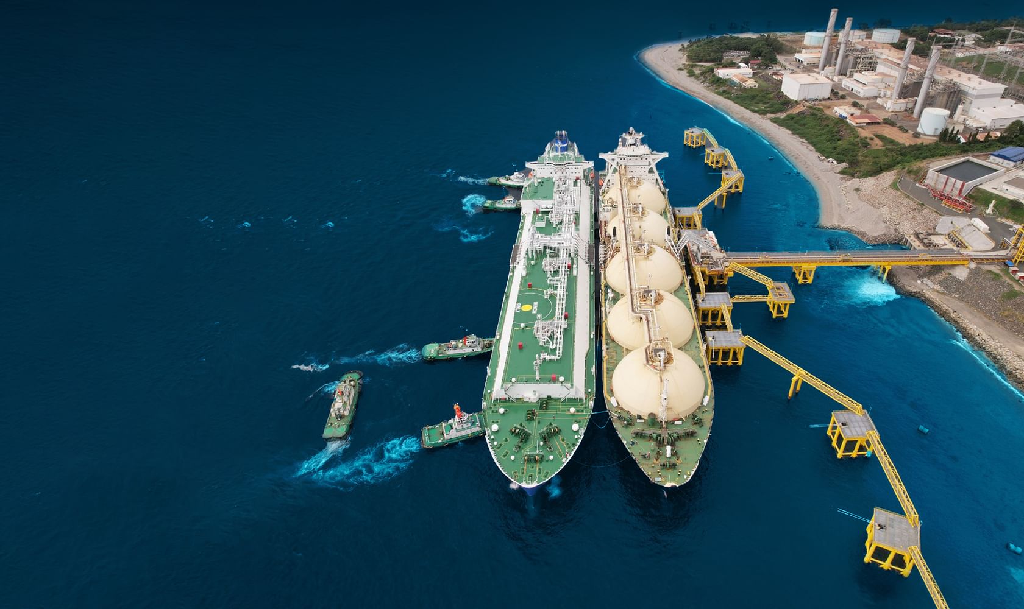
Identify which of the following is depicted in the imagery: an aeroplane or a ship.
ship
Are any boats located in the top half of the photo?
Yes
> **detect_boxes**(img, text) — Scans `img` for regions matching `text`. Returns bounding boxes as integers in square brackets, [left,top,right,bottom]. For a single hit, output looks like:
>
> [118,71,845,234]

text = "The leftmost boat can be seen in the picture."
[320,368,366,441]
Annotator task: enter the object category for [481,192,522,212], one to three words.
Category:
boat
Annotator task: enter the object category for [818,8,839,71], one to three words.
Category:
chimney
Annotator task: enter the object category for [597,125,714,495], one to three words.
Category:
ship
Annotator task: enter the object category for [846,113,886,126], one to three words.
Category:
building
